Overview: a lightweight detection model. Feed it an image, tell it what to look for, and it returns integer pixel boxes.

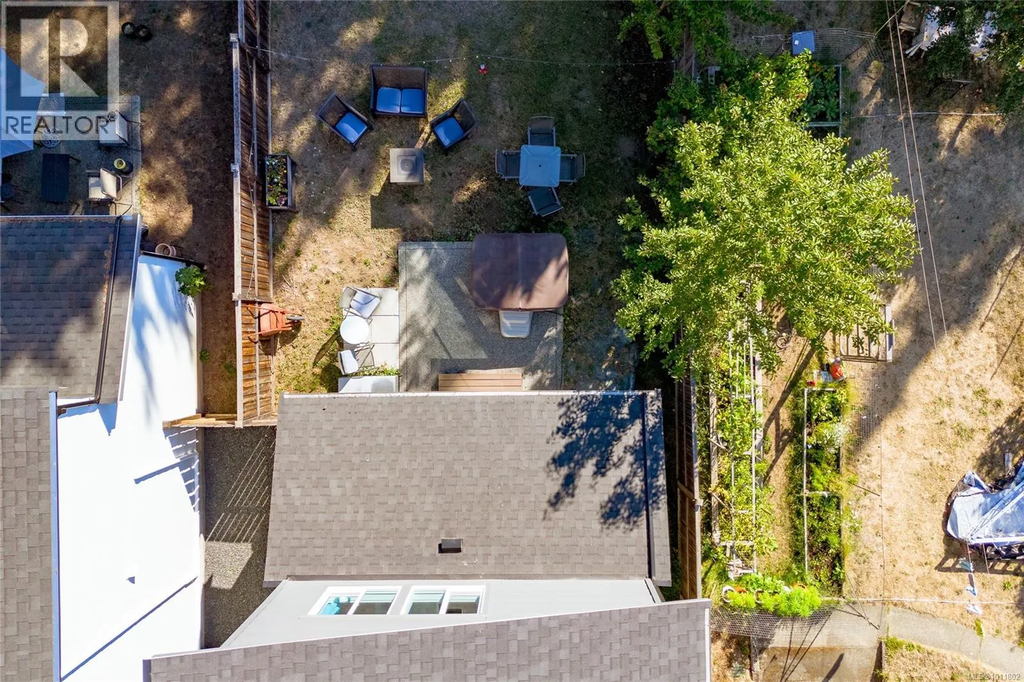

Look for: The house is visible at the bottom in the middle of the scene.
[145,390,715,682]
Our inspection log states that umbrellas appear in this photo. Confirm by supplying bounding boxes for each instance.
[0,49,61,161]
